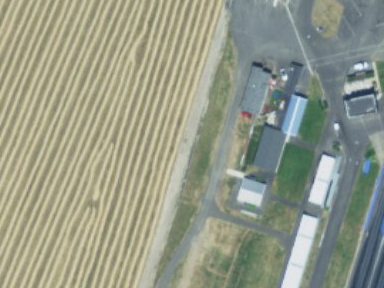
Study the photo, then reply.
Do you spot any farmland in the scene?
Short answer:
Yes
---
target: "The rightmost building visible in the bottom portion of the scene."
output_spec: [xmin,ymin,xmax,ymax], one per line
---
[310,154,336,204]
